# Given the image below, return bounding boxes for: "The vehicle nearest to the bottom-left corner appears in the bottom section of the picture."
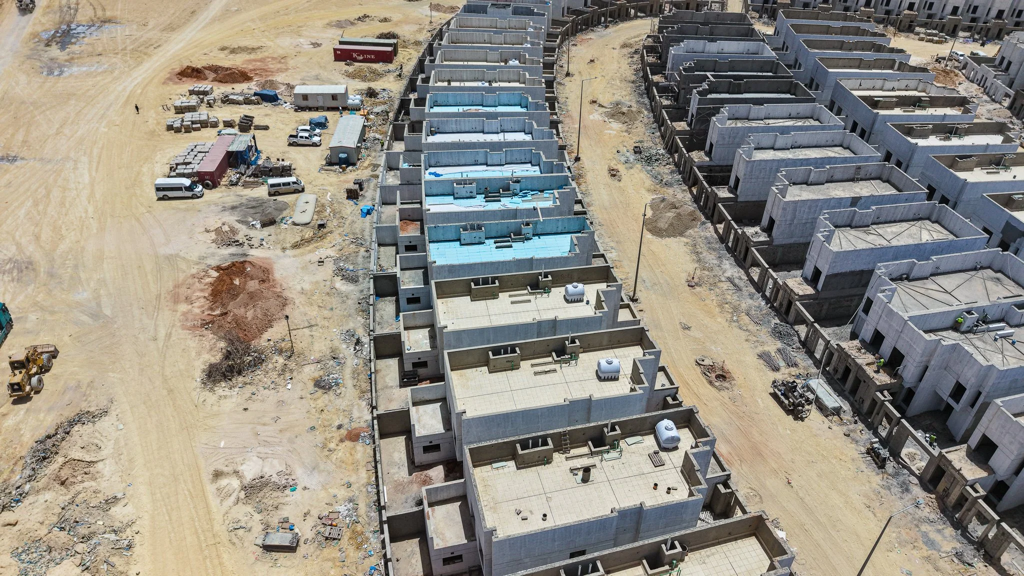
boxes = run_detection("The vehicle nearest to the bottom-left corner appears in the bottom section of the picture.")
[0,342,63,398]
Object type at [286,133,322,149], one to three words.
vehicle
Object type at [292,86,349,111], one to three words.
building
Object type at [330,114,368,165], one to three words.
building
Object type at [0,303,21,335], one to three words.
truck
